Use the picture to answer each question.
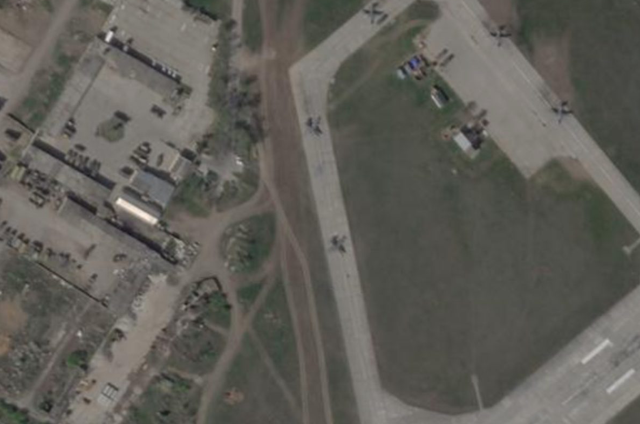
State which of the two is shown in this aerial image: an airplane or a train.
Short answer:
airplane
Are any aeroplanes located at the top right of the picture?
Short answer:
Yes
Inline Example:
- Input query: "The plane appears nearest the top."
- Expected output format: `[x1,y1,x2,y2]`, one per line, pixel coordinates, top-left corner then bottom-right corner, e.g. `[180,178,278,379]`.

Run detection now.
[362,1,384,24]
